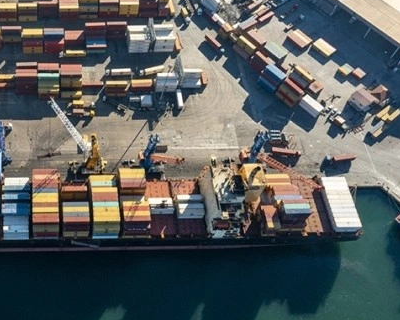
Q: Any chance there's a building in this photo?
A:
Yes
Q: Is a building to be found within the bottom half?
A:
No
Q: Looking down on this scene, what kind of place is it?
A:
port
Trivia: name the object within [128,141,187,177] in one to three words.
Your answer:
crane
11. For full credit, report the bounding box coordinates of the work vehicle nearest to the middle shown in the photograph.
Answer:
[160,97,178,116]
